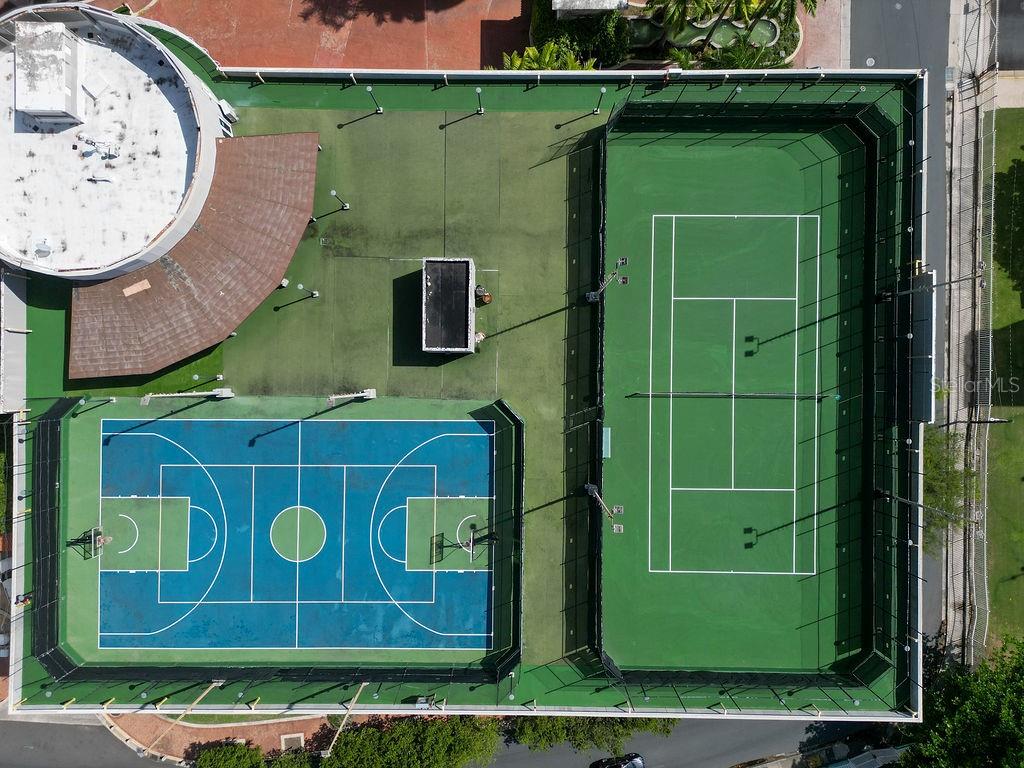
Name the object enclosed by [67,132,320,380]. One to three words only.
building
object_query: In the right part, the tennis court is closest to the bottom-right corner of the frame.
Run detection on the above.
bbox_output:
[599,119,873,669]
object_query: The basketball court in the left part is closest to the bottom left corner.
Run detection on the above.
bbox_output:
[57,397,522,667]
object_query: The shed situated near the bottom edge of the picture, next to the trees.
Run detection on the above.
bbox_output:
[806,728,904,768]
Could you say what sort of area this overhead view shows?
sports ground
